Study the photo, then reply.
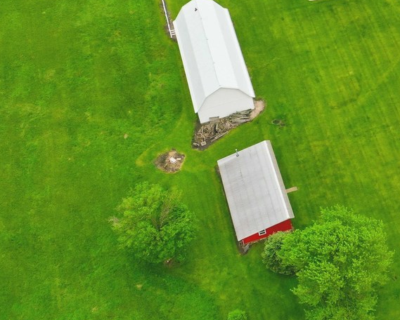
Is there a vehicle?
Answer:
No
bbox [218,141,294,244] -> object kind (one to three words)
shed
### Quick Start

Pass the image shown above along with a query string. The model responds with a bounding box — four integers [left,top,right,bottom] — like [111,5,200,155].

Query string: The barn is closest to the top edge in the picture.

[173,0,256,123]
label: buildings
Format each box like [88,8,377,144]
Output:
[173,0,256,123]
[218,141,294,244]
